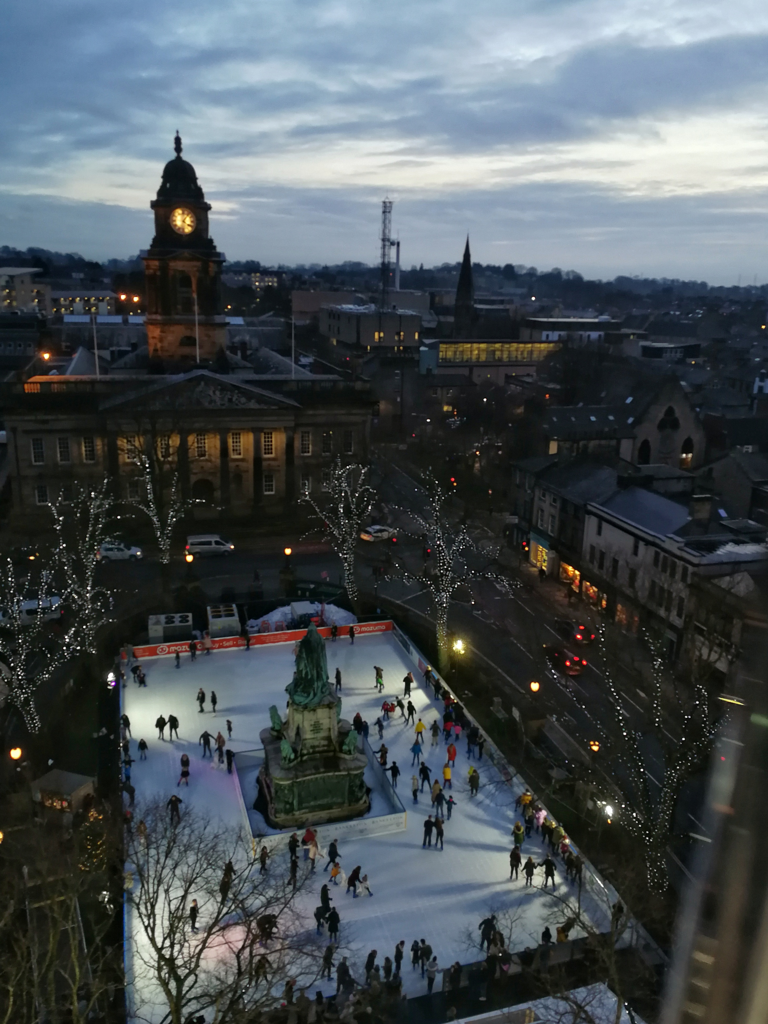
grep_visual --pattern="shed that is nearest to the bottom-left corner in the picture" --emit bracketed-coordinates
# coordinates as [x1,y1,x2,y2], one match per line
[18,773,92,850]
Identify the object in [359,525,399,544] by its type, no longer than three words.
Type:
car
